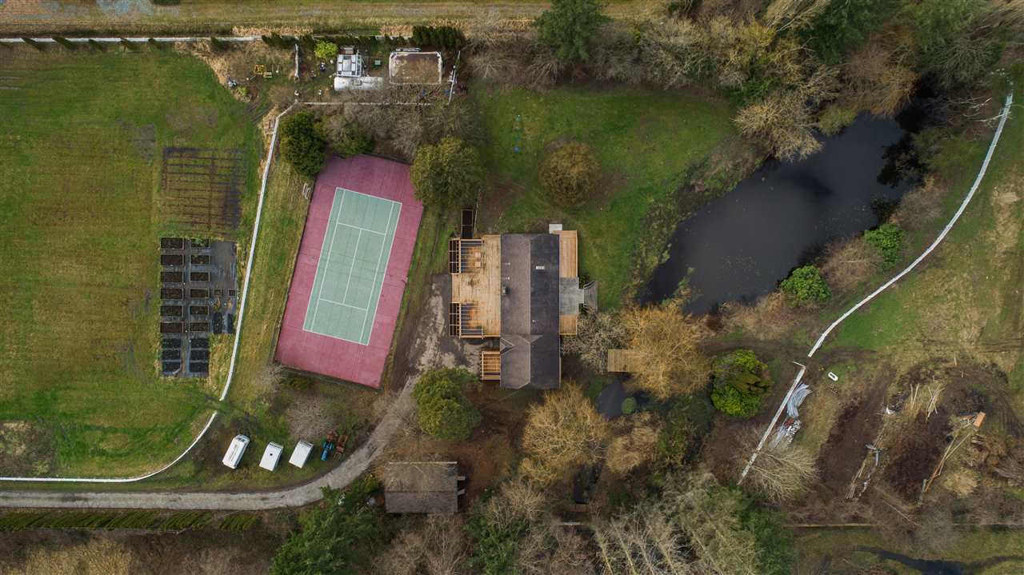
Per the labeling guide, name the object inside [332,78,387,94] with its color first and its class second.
white trailer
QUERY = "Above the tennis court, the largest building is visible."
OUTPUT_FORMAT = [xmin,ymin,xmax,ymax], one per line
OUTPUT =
[390,52,442,89]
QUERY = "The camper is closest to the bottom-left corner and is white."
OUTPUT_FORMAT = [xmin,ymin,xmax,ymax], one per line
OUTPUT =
[226,428,253,468]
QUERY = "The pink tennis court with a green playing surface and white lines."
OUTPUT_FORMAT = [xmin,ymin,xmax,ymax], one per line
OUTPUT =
[275,147,425,389]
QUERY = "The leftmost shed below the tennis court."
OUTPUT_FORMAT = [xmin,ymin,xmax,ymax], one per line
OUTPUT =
[384,461,466,513]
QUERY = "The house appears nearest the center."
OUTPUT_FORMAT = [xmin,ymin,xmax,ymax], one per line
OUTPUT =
[500,234,561,389]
